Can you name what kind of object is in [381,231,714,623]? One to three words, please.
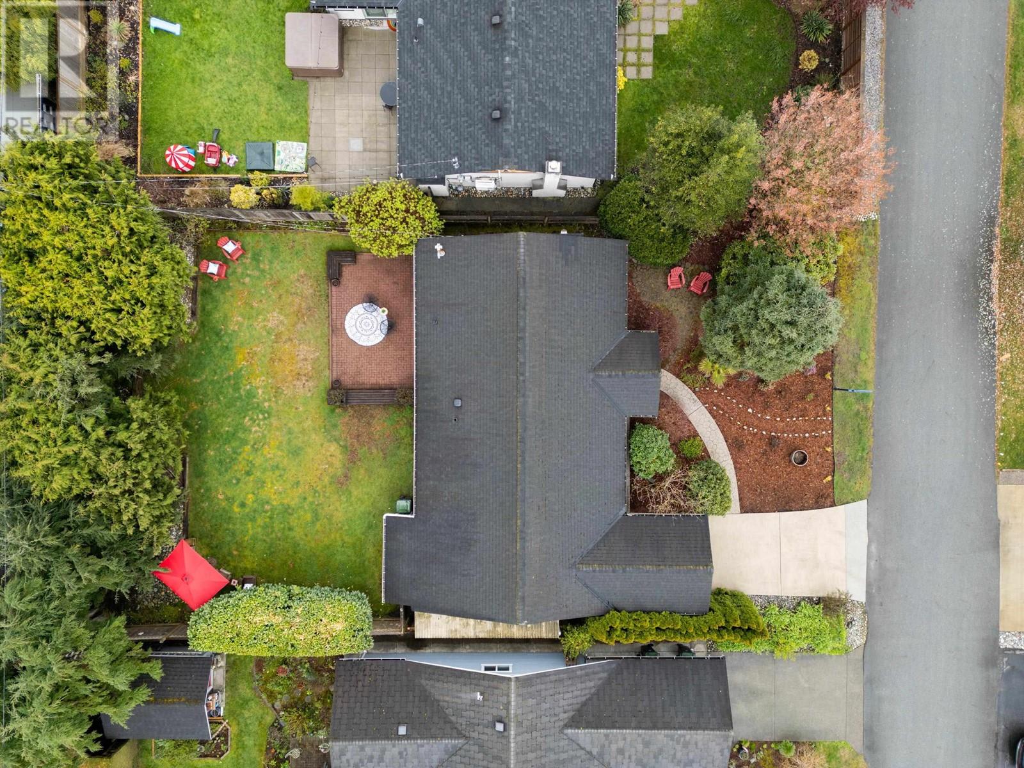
house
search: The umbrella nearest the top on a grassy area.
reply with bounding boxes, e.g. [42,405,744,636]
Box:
[165,143,197,173]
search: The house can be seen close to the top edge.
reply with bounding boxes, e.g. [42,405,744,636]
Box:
[310,0,617,196]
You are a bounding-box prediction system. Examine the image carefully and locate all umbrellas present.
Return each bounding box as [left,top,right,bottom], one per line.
[165,143,197,173]
[154,539,230,609]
